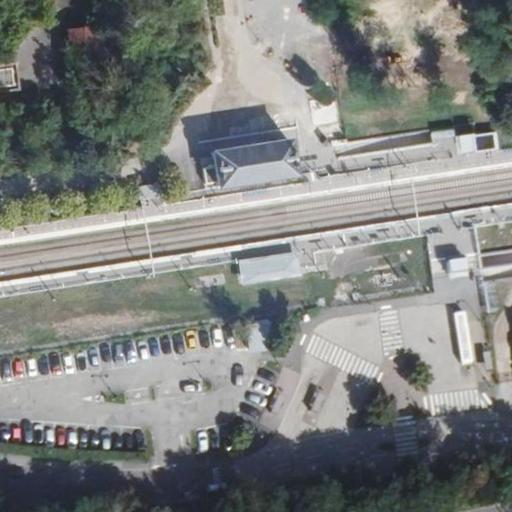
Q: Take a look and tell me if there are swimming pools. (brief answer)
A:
No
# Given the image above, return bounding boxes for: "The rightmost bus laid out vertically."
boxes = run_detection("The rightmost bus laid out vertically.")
[455,310,476,368]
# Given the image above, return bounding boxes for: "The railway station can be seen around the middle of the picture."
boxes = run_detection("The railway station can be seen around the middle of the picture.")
[0,138,512,296]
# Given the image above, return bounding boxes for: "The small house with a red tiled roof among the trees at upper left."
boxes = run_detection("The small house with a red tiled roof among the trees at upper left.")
[67,24,94,44]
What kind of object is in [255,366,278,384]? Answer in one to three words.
car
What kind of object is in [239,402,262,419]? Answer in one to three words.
car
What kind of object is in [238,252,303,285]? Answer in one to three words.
building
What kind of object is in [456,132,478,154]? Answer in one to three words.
house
